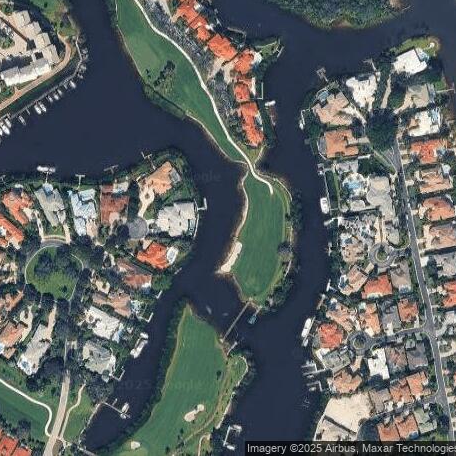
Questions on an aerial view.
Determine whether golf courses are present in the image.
Yes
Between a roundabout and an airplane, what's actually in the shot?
roundabout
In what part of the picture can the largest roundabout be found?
left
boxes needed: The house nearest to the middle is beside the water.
[152,198,198,236]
